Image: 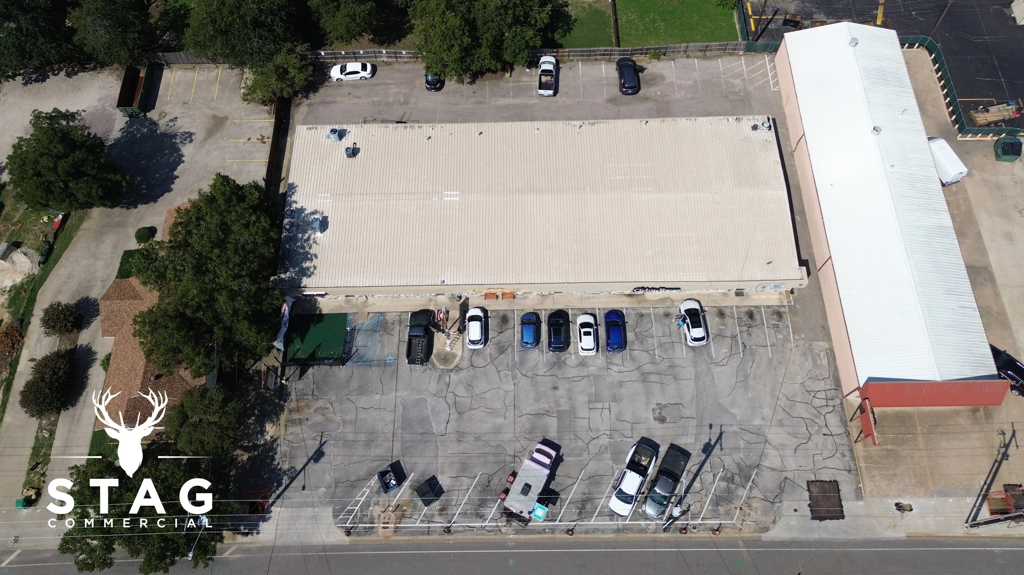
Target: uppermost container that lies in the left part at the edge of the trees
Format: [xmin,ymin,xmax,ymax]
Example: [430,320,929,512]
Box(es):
[117,62,153,119]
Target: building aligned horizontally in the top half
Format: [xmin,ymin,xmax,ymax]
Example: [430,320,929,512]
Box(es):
[272,116,809,301]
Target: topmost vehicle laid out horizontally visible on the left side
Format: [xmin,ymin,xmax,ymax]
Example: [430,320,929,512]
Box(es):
[331,63,373,81]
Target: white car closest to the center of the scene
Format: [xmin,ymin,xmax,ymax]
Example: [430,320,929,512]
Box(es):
[464,311,486,352]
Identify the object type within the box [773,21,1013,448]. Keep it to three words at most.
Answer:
building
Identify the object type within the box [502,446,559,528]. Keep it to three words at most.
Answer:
truck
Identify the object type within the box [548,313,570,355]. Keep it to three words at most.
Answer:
car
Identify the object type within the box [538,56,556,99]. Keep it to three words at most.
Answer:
vehicle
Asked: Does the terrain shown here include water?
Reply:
No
